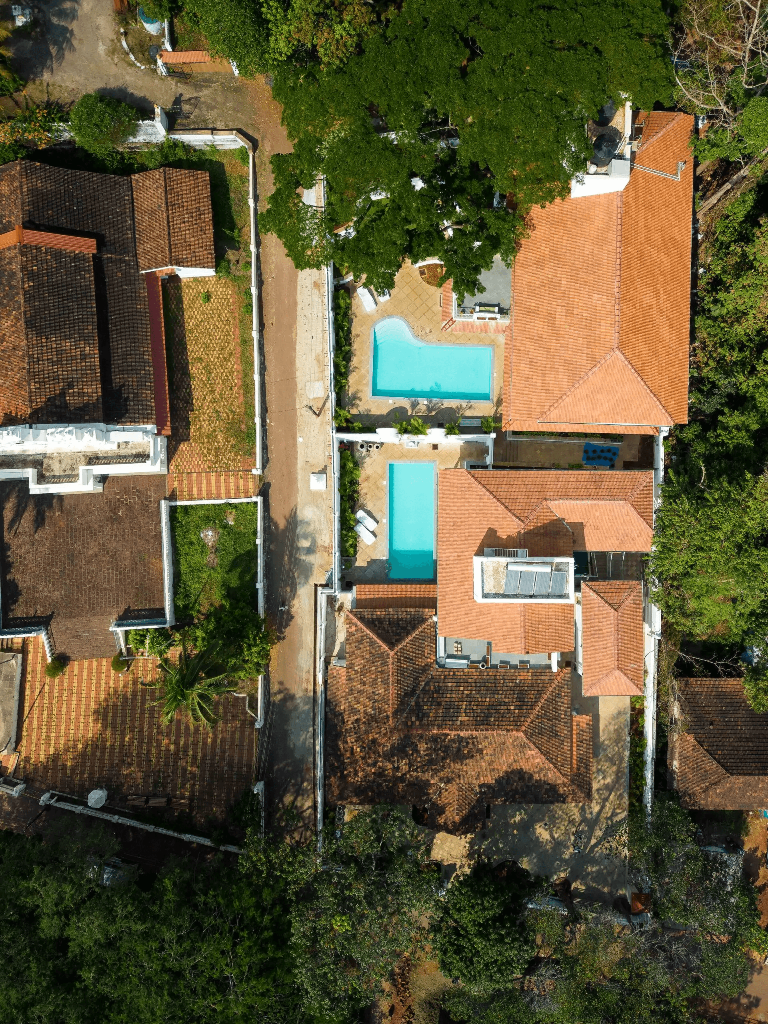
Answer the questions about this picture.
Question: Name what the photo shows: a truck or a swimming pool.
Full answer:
There is a swimming pool in the scene.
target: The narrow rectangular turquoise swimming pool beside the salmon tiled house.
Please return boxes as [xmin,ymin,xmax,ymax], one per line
[385,460,437,582]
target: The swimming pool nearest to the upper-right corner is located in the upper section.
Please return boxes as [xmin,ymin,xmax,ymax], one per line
[368,314,496,405]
